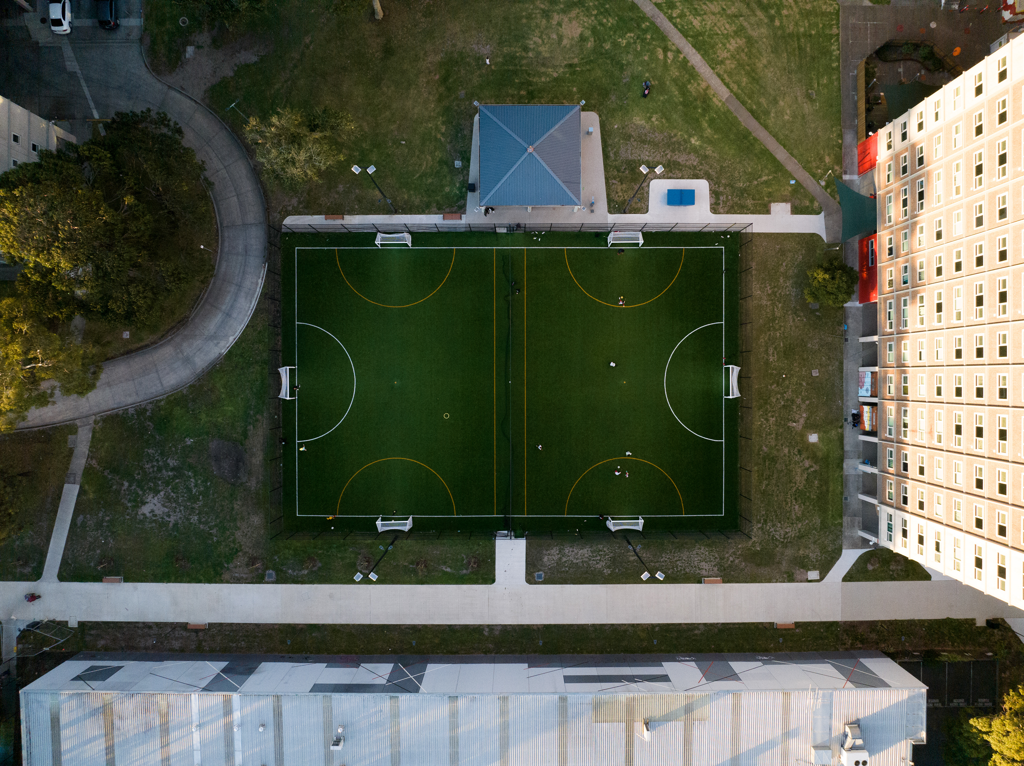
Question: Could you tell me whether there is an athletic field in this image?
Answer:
Yes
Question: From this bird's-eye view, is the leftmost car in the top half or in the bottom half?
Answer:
top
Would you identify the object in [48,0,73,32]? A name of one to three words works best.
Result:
car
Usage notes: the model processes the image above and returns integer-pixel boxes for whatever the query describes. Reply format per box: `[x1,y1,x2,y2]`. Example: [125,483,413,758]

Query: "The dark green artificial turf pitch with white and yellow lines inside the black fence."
[281,232,740,532]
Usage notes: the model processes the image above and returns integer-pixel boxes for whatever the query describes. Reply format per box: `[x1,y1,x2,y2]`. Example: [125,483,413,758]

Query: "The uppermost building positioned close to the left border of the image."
[0,92,88,202]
